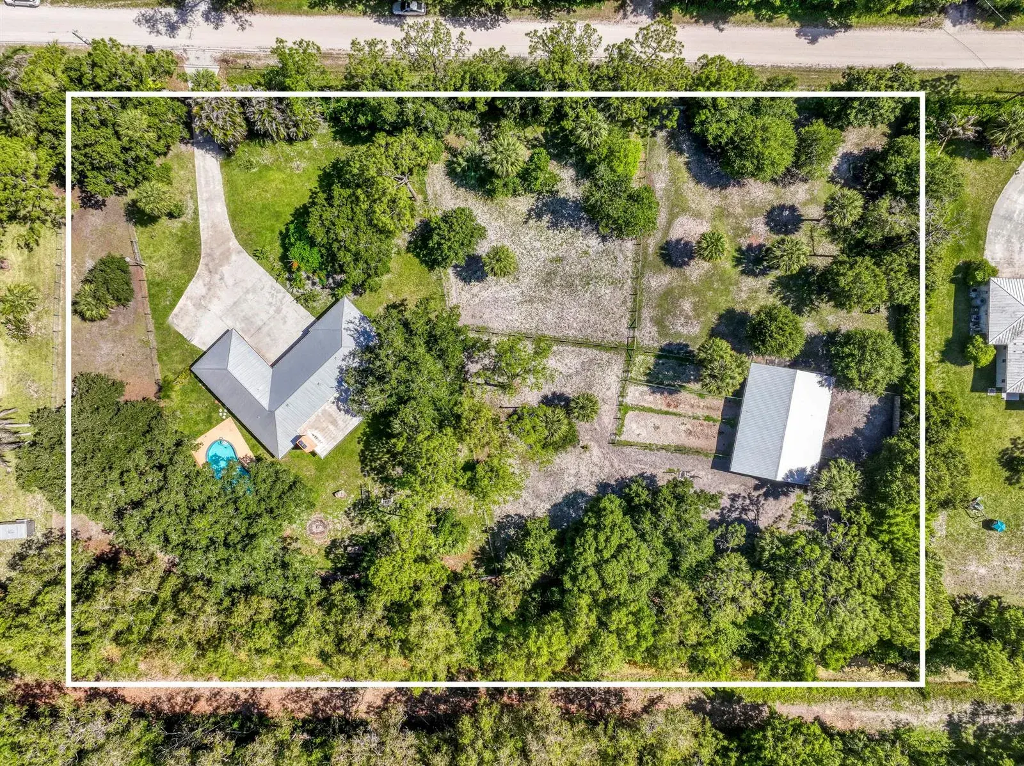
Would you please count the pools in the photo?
1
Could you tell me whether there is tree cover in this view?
Yes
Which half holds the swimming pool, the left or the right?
left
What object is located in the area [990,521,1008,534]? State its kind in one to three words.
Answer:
umbrella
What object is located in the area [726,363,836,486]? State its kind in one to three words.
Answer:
barn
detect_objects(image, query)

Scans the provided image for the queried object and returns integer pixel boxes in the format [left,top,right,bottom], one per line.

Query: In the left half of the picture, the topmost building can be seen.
[190,296,388,459]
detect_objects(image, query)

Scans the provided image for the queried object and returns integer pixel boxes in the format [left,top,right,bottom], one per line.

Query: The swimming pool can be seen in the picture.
[190,417,277,524]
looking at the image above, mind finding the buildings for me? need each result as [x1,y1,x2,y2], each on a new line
[726,363,836,486]
[0,517,40,538]
[190,296,388,459]
[969,277,1024,399]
